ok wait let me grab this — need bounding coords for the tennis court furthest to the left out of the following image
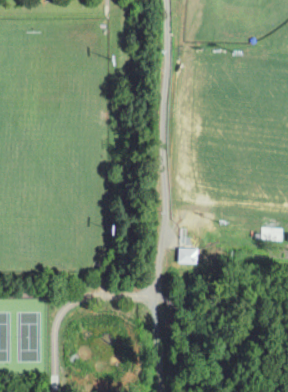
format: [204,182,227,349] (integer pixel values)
[0,312,12,362]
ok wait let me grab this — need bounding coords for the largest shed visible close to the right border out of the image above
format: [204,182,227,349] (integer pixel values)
[261,227,284,242]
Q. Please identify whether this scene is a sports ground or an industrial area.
sports ground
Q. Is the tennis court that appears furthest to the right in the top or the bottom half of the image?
bottom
